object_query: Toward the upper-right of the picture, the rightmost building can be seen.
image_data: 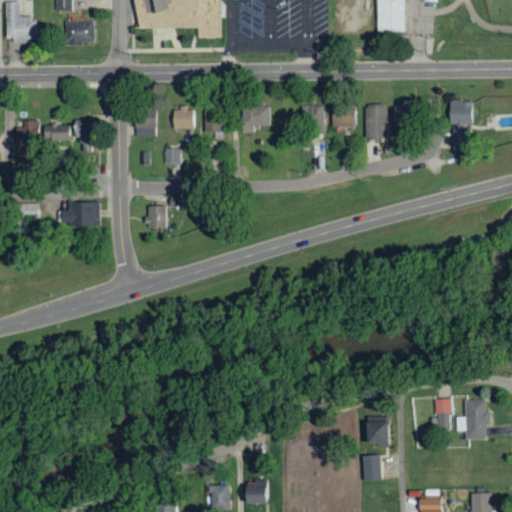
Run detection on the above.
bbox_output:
[449,100,473,127]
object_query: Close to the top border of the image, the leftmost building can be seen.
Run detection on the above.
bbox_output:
[6,1,38,41]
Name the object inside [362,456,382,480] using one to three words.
building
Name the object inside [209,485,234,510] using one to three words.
house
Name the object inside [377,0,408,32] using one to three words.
building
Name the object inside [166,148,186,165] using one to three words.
house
